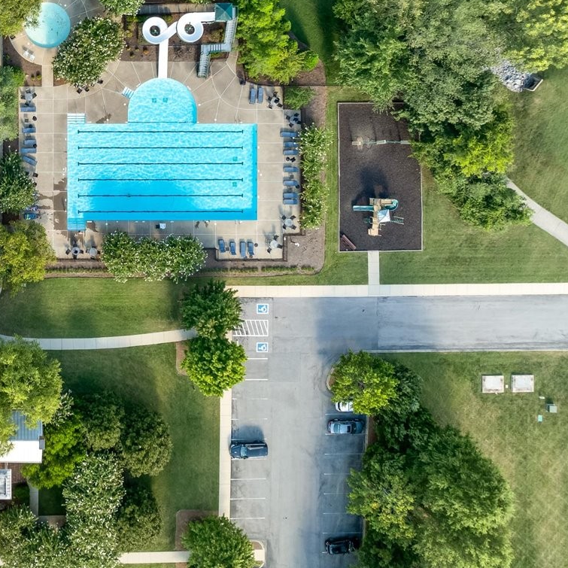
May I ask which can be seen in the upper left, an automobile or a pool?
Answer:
pool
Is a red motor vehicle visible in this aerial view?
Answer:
No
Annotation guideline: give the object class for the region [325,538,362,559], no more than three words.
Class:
car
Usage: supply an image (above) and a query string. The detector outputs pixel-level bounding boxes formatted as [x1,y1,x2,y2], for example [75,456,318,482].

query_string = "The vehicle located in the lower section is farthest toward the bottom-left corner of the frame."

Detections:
[230,444,270,463]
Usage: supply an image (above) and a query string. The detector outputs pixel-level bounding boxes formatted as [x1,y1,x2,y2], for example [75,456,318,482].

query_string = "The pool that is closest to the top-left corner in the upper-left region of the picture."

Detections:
[24,3,70,49]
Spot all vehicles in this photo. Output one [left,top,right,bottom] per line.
[230,444,270,463]
[329,420,367,438]
[325,538,362,559]
[335,400,373,417]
